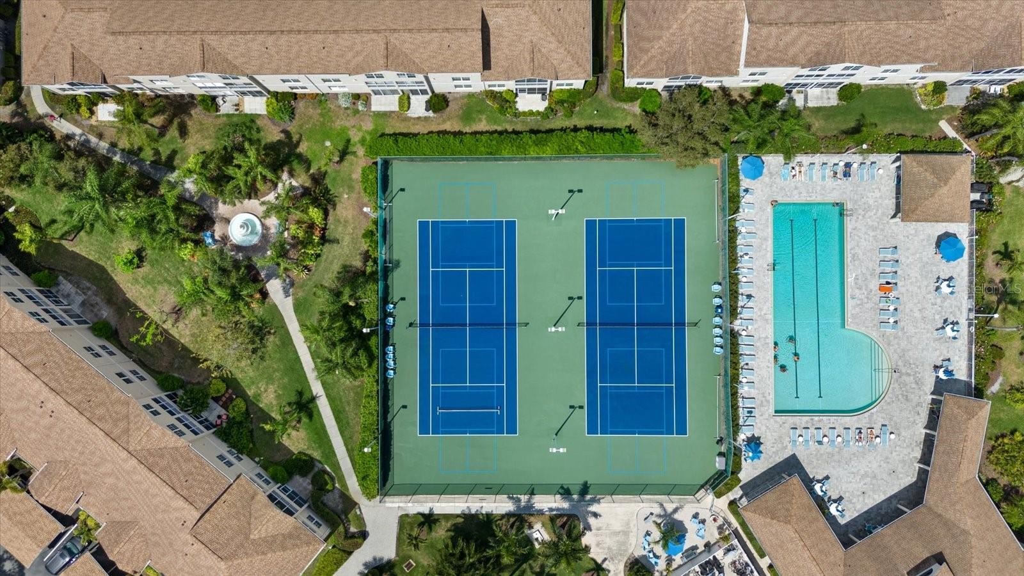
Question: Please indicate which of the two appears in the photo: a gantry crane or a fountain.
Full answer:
Looking from above, you can make out a fountain.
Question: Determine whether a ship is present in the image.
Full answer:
No, there is no ship in the image.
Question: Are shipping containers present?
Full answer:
No, I find no shipping container anywhere in the image.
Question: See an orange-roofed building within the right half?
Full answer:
No, no orange-roofed building appears within the right half.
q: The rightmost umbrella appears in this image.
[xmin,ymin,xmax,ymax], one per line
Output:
[937,237,961,261]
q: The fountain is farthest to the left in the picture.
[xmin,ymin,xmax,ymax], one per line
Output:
[228,212,265,248]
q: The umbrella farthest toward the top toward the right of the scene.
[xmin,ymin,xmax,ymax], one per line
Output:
[738,156,763,180]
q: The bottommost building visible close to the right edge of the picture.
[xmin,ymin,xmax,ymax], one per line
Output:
[742,394,1024,576]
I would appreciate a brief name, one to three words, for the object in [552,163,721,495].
tennis court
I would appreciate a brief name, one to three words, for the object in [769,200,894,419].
swimming pool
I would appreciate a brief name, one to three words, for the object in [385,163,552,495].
tennis court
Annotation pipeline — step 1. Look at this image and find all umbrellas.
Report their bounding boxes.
[664,530,689,555]
[937,237,961,261]
[738,156,763,180]
[741,436,763,463]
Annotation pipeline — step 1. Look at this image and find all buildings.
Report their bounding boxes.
[742,394,1024,576]
[887,154,971,224]
[622,0,1024,92]
[21,0,592,98]
[0,256,330,576]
